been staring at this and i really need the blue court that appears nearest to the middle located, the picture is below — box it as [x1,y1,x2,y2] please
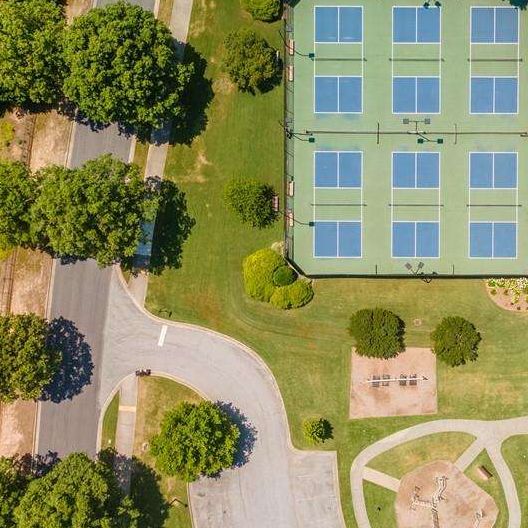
[309,152,366,258]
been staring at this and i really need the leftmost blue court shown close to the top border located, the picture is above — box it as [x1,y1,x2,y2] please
[309,6,367,114]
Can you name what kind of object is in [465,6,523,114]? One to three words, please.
sports court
